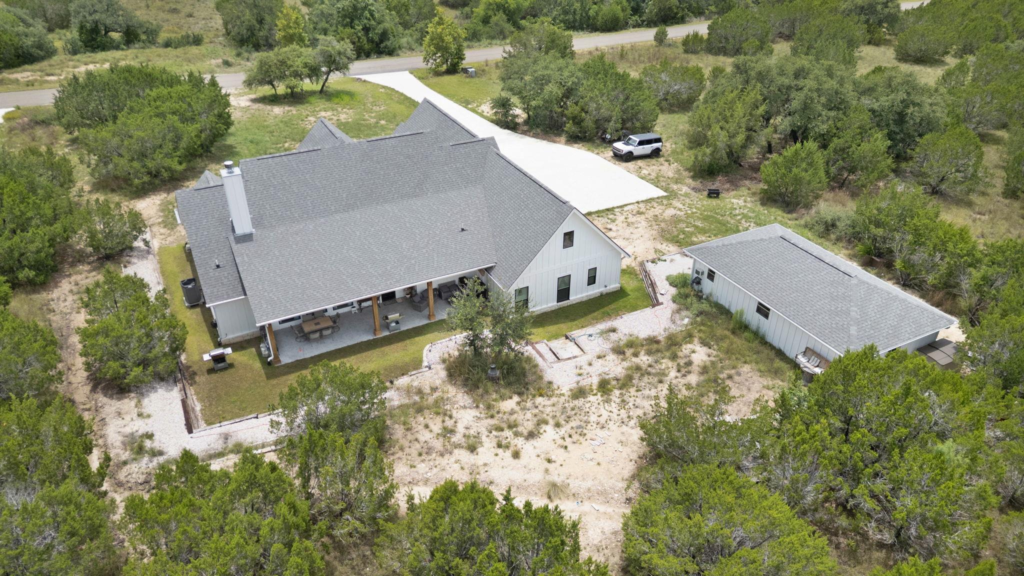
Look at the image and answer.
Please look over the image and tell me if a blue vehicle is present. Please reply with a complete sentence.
No, there's no blue vehicle here.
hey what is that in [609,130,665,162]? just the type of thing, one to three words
car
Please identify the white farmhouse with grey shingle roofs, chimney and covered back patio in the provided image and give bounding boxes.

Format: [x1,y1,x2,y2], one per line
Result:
[174,98,632,377]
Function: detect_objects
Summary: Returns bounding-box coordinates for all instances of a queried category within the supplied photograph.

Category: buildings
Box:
[174,98,632,377]
[683,223,958,376]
